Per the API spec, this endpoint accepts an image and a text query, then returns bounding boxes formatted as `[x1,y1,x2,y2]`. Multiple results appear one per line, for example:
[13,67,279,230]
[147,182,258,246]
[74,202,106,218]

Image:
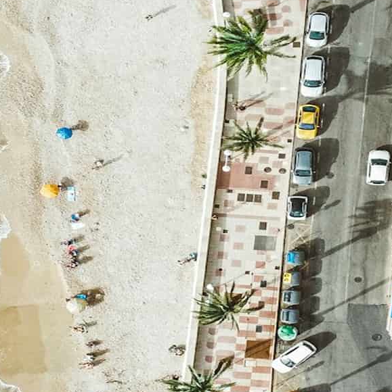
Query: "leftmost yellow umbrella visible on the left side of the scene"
[41,183,58,197]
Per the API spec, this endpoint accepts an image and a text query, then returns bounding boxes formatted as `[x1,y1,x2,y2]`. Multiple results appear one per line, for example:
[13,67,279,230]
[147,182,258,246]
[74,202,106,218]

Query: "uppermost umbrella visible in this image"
[56,127,71,140]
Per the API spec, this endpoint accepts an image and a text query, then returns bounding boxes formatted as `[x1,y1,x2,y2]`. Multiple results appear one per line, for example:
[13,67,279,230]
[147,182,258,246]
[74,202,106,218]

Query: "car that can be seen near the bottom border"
[274,338,317,375]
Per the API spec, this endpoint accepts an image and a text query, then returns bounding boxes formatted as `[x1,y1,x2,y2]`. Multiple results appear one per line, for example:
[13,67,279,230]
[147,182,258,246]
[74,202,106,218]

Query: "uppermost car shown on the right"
[305,10,330,49]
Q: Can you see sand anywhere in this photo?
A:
Yes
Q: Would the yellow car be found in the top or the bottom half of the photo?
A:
top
